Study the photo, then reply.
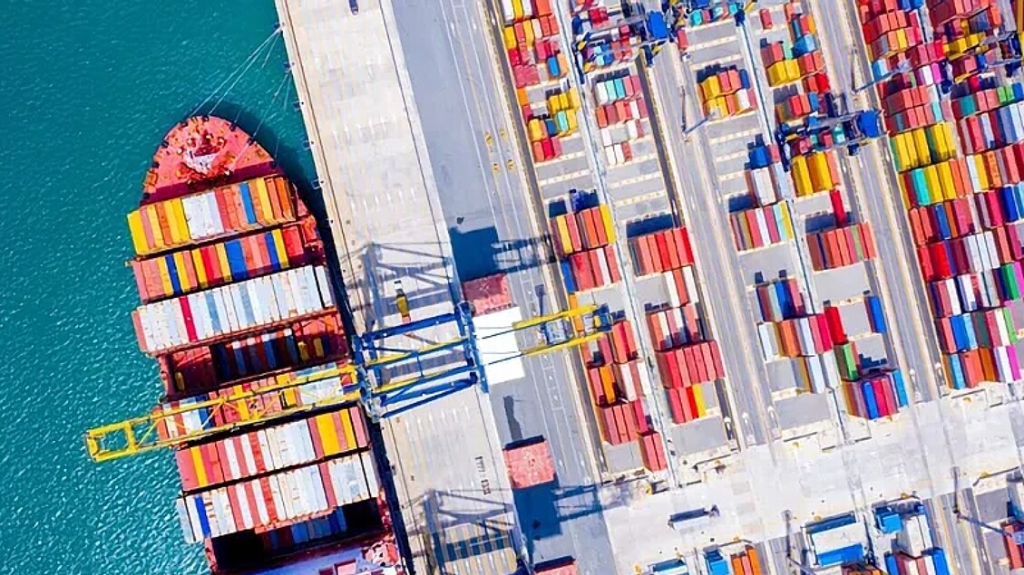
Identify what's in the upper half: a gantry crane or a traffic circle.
gantry crane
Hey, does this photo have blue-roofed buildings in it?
Yes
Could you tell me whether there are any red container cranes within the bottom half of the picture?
No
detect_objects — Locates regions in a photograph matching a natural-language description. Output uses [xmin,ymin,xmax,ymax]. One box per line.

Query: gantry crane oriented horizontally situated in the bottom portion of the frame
[81,300,615,463]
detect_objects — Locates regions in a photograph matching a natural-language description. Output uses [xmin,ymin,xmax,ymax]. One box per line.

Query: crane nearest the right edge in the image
[938,32,1024,99]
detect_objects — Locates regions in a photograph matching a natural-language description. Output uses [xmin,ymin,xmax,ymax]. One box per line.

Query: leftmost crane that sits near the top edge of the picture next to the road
[570,6,666,82]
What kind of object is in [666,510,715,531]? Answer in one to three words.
truck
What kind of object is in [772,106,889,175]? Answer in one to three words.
container crane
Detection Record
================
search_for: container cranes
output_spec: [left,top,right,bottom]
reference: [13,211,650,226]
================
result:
[570,6,666,82]
[663,0,757,42]
[938,32,1024,99]
[772,106,889,175]
[81,300,615,463]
